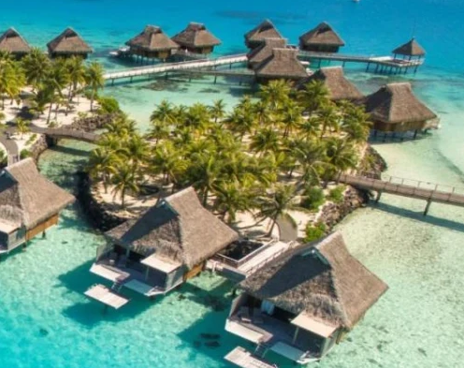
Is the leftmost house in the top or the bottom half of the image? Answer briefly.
top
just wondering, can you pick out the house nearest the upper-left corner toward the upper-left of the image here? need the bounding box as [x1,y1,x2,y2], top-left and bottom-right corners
[0,24,27,54]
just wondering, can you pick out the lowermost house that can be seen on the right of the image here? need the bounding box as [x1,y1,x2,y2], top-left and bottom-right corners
[217,231,389,368]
